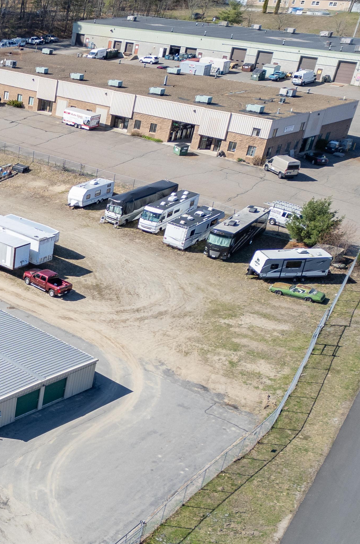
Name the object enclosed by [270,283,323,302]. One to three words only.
car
